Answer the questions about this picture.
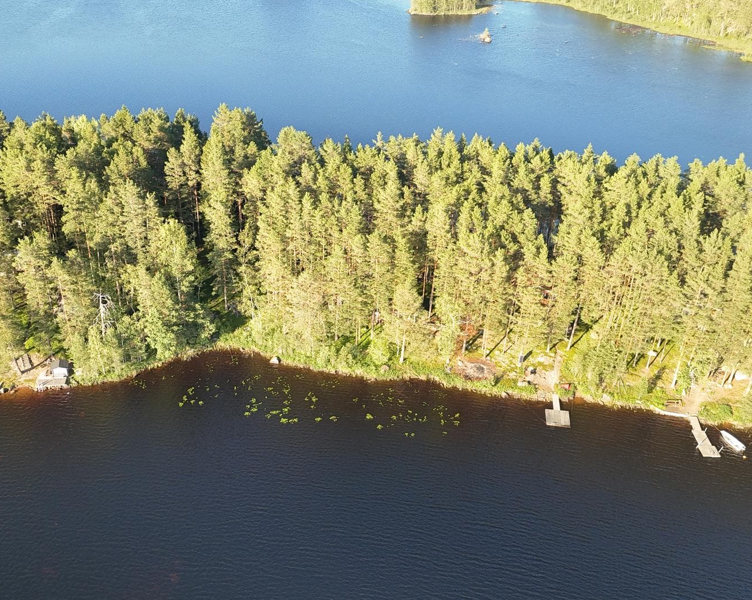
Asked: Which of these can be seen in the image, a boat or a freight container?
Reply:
boat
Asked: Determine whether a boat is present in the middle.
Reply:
No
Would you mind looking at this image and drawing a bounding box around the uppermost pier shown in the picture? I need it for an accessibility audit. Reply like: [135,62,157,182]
[546,394,570,430]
